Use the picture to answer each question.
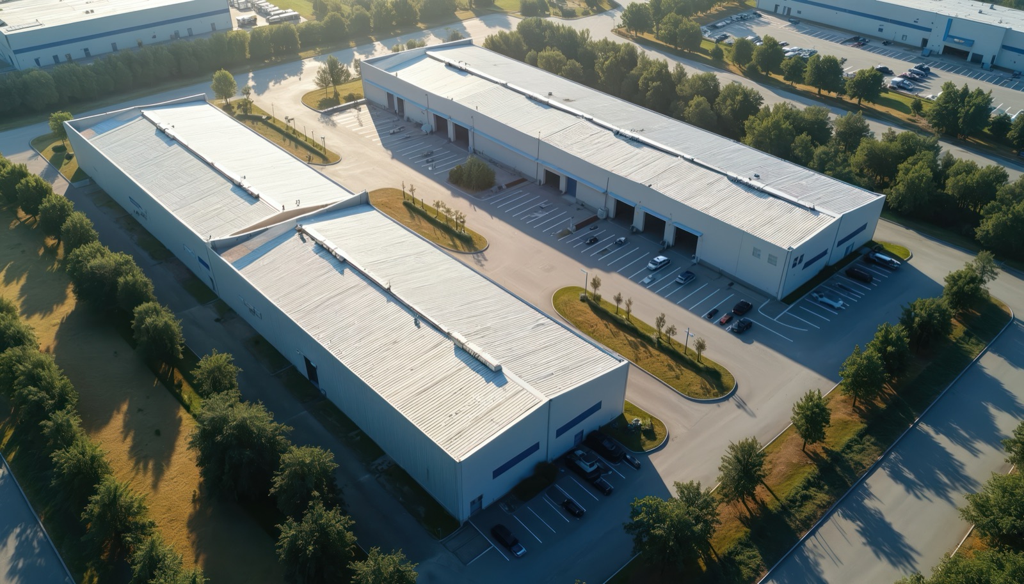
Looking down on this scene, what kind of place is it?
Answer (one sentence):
The picture captures an industrial area.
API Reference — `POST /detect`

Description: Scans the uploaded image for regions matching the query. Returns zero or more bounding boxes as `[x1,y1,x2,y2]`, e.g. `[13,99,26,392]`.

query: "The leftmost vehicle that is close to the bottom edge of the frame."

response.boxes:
[484,515,531,559]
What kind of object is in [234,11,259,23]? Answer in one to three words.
vehicle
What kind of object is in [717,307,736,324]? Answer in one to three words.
car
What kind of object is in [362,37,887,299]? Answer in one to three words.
warehouse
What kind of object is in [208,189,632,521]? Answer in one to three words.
warehouse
